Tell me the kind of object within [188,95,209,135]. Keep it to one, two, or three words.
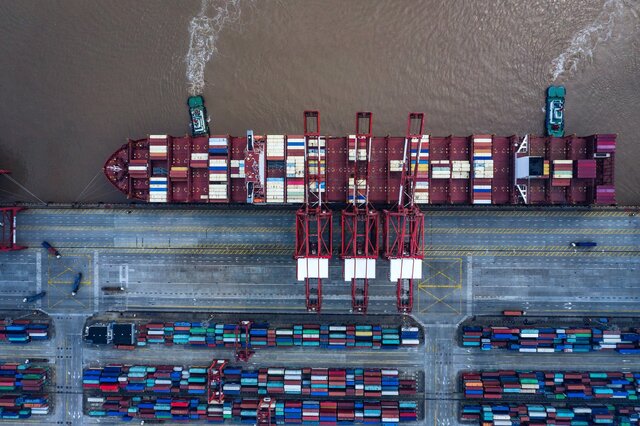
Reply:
boat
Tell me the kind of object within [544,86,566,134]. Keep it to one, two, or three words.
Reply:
boat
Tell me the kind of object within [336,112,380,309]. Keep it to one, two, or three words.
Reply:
container crane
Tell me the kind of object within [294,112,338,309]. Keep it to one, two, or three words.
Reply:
container crane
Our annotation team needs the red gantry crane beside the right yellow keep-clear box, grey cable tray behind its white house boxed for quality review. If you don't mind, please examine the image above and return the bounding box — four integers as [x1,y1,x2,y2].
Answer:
[379,112,425,309]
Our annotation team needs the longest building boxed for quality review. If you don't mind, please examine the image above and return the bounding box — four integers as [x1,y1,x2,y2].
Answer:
[87,322,138,345]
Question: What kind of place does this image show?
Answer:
port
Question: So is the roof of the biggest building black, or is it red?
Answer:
black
